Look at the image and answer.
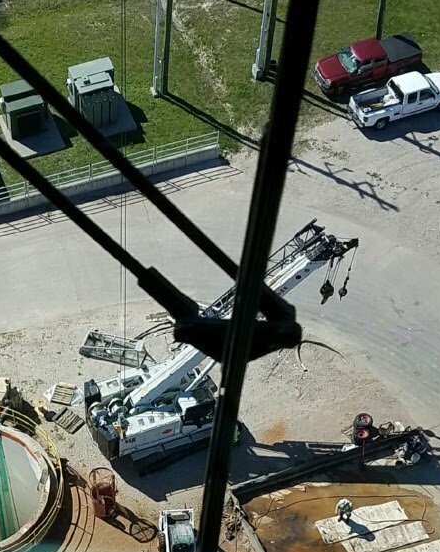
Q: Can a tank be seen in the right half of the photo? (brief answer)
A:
No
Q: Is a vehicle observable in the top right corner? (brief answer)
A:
Yes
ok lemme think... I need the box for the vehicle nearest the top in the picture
[306,33,426,96]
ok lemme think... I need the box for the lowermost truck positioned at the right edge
[349,67,440,131]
